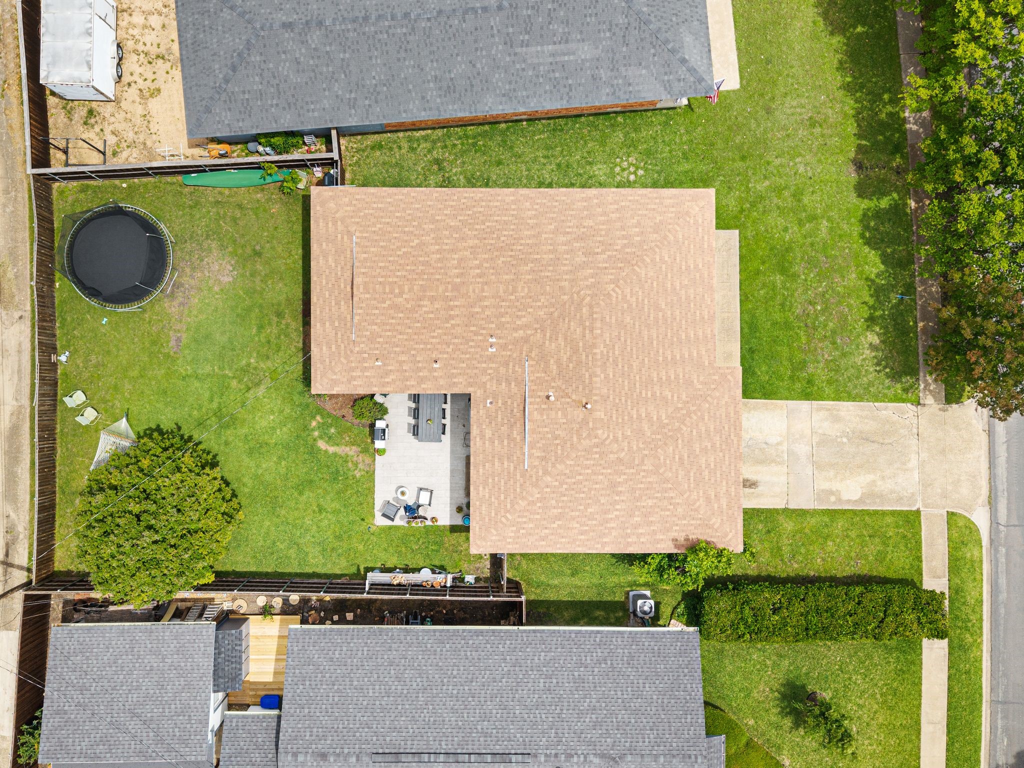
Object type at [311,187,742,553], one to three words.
house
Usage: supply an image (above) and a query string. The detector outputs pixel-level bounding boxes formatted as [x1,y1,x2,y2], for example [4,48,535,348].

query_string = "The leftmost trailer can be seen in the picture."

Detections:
[40,0,128,101]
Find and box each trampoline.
[49,199,179,312]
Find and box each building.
[176,0,714,143]
[278,623,728,768]
[36,621,229,768]
[311,187,742,553]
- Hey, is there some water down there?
No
